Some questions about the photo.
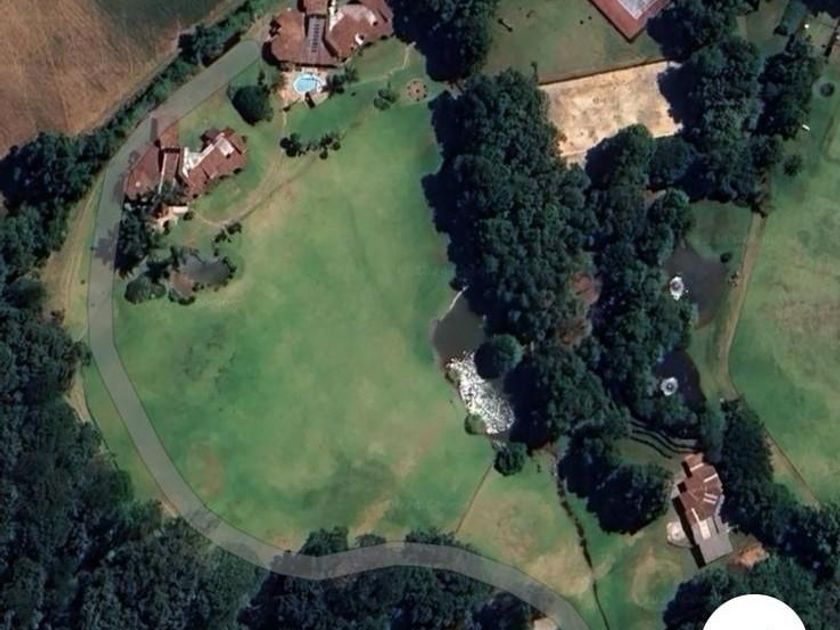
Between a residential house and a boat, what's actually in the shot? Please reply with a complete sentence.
There is a residential house in the scene.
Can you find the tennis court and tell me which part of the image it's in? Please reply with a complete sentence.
You can find the tennis court in the top right area of the picture.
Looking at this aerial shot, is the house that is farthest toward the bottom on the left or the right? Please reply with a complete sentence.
You can find the house that is farthest toward the bottom on the right side of the picture.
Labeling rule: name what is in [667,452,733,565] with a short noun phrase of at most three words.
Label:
house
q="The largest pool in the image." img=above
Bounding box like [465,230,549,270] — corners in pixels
[279,66,330,109]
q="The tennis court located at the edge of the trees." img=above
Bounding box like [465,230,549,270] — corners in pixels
[590,0,670,42]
